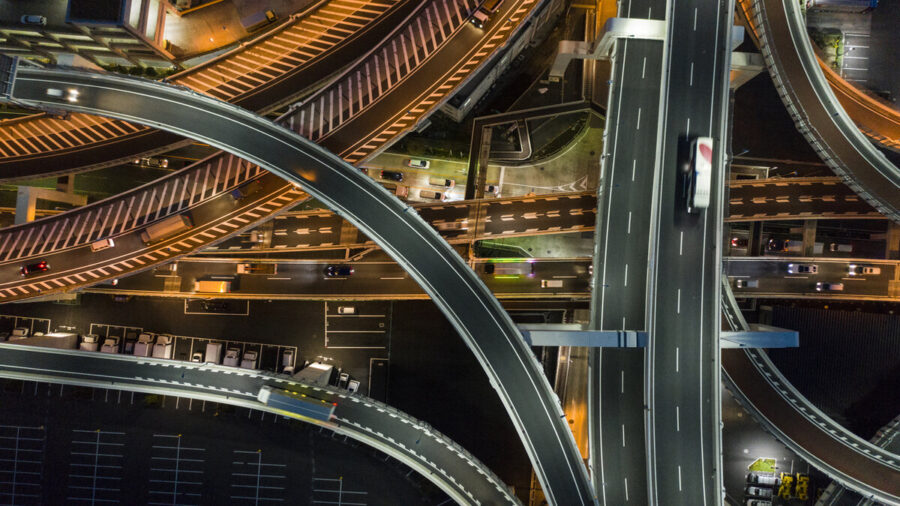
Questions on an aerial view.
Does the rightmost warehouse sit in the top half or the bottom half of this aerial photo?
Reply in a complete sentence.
The rightmost warehouse is in the bottom half of the image.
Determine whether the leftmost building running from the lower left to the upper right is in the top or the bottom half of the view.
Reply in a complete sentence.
You can find the leftmost building running from the lower left to the upper right in the top half.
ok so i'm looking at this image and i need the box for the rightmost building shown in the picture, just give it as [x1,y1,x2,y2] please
[754,303,900,432]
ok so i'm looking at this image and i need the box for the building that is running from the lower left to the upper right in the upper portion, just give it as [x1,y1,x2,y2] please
[439,0,551,117]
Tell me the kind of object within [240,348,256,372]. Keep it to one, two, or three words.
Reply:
vehicle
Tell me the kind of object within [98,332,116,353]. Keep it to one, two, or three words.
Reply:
vehicle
